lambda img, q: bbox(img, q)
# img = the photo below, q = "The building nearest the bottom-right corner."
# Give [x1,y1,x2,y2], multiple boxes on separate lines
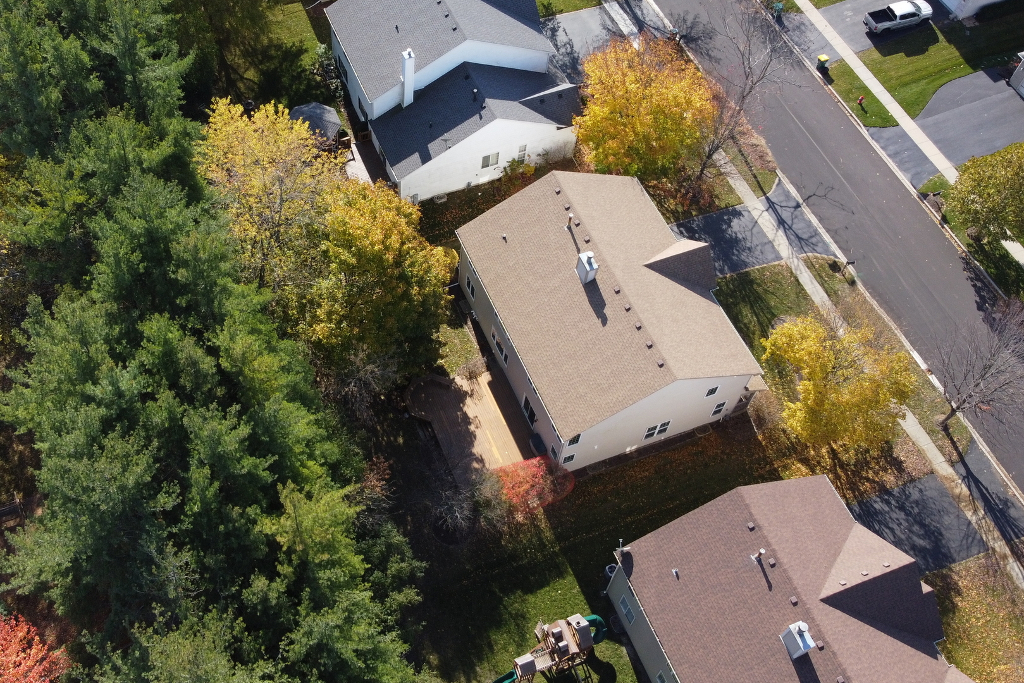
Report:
[605,474,1013,683]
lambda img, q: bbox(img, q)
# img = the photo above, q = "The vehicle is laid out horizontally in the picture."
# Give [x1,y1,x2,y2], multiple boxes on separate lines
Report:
[864,0,940,35]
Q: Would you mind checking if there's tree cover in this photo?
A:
Yes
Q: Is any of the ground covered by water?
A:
No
